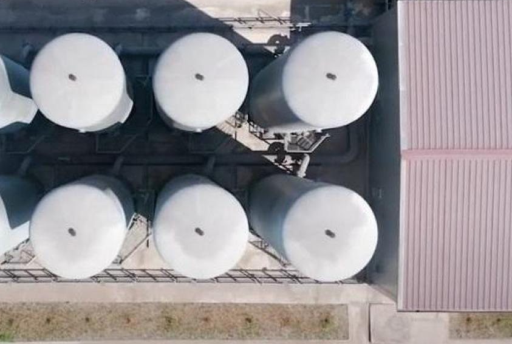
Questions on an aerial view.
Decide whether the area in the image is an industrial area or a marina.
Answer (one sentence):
This looks like an industrial area.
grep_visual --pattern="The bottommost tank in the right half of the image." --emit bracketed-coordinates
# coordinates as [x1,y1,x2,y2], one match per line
[244,151,378,280]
